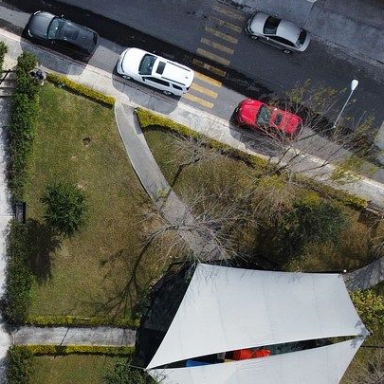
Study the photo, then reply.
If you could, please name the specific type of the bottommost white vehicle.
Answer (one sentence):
The bottommost white vehicle can be classified as an automobile.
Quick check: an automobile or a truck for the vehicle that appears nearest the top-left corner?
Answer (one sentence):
What you see as the vehicle that appears nearest the top-left corner is an automobile.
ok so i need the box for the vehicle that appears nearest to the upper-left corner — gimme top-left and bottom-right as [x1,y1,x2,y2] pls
[29,9,101,60]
